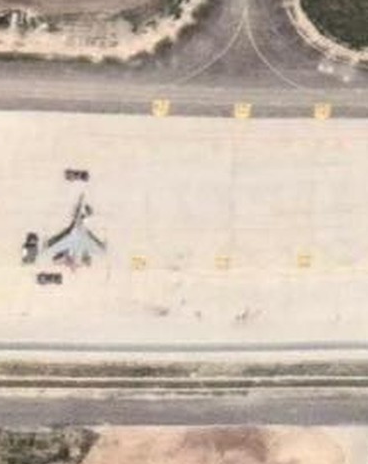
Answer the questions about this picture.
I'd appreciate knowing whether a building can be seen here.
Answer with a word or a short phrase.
No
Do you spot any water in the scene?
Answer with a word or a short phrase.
No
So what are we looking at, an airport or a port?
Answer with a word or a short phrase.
airport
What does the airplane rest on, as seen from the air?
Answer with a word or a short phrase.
apron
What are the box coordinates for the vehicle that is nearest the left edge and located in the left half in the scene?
[22,235,38,263]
